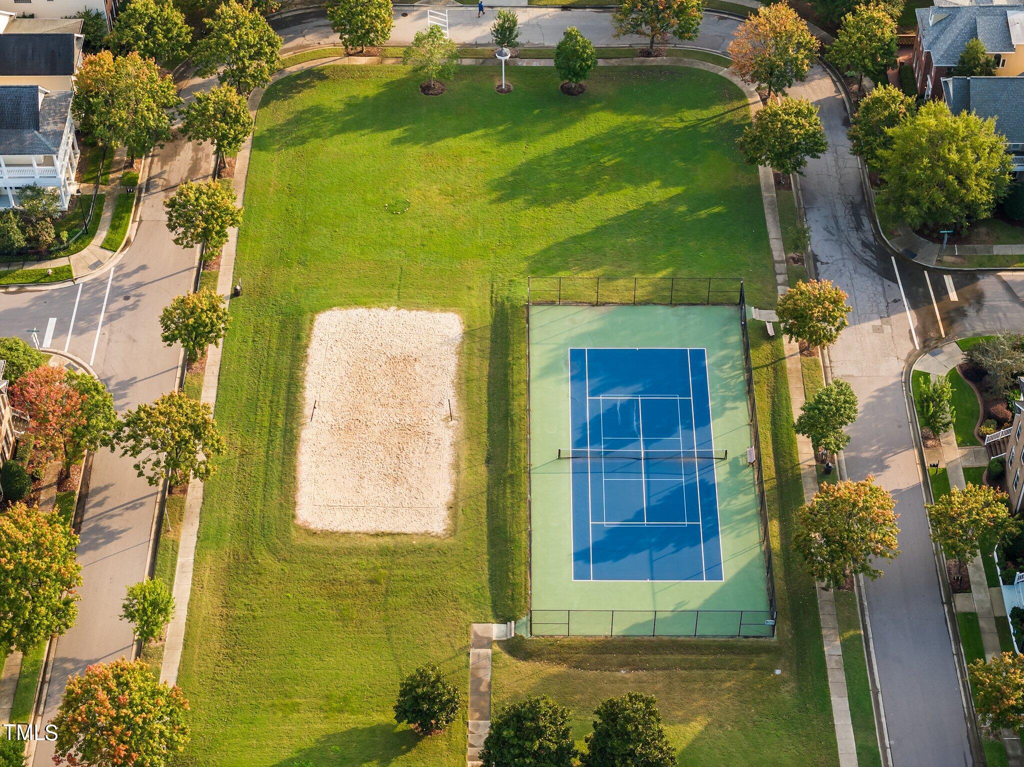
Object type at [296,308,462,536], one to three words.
sports court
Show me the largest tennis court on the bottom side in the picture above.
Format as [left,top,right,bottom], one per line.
[515,303,777,641]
